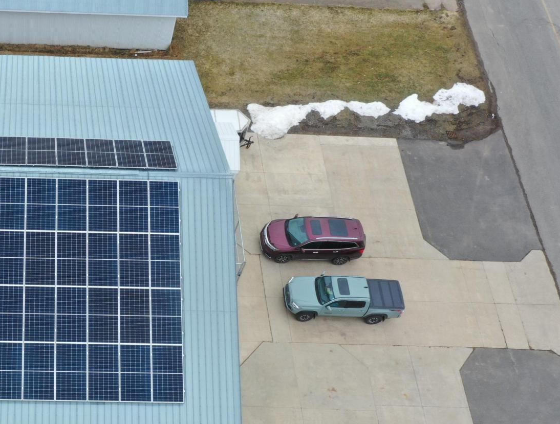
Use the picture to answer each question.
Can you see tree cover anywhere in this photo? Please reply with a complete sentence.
No, there's no tree cover in this view.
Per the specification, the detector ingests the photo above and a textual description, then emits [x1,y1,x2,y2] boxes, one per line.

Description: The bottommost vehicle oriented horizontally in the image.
[283,267,404,323]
